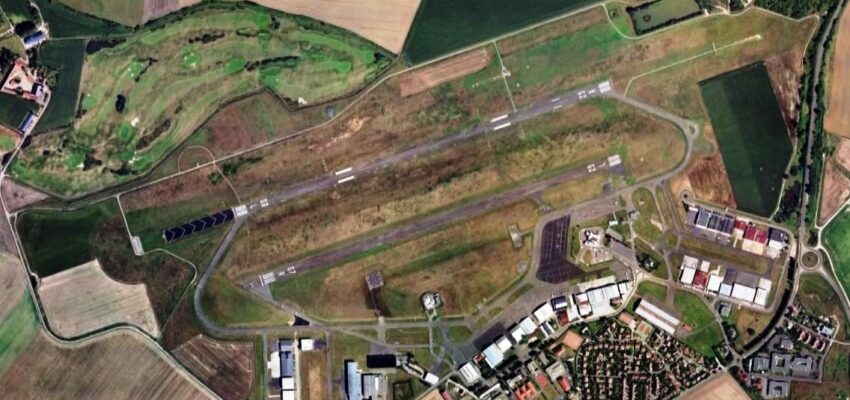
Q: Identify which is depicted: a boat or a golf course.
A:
golf course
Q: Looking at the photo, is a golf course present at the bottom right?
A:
No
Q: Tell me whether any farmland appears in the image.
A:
Yes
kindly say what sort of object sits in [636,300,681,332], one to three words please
hangar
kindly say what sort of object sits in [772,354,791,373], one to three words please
building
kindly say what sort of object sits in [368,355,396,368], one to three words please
hangar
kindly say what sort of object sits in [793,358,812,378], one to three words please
building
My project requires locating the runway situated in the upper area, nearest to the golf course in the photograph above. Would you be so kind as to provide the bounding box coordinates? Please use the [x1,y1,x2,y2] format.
[164,79,618,241]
